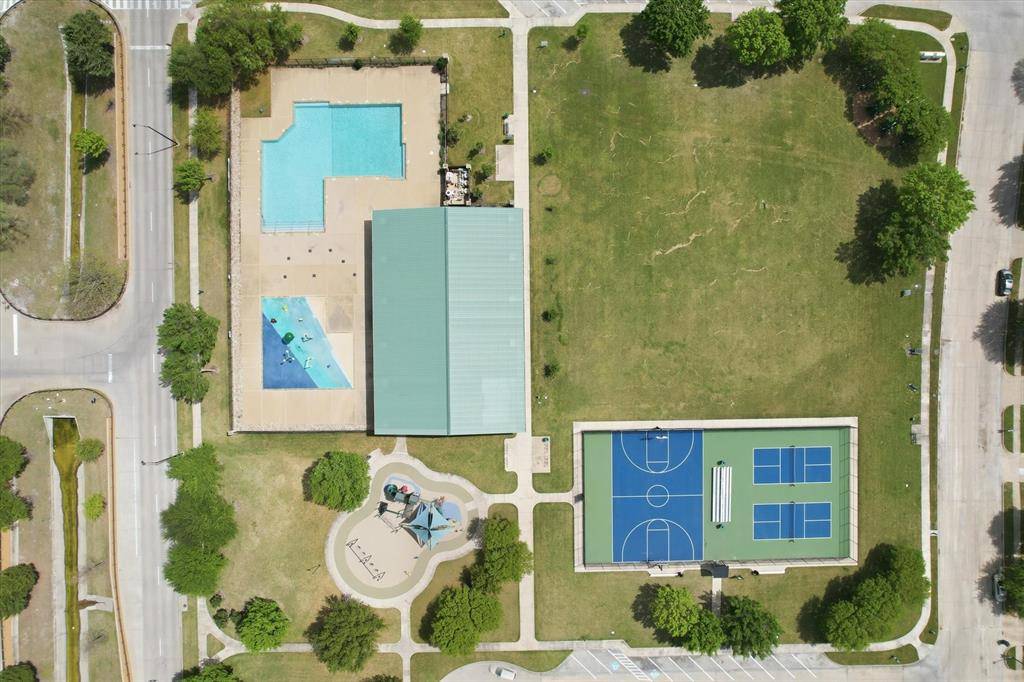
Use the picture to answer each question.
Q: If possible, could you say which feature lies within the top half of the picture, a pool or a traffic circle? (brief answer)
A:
pool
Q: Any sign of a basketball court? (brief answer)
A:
Yes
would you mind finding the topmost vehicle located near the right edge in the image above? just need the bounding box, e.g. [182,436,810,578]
[1000,270,1015,296]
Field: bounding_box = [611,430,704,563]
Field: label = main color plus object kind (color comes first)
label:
blue basketball court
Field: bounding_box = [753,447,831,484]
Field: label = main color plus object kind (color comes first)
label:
blue sports court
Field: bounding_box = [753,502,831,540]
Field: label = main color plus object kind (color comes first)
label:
blue sports court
